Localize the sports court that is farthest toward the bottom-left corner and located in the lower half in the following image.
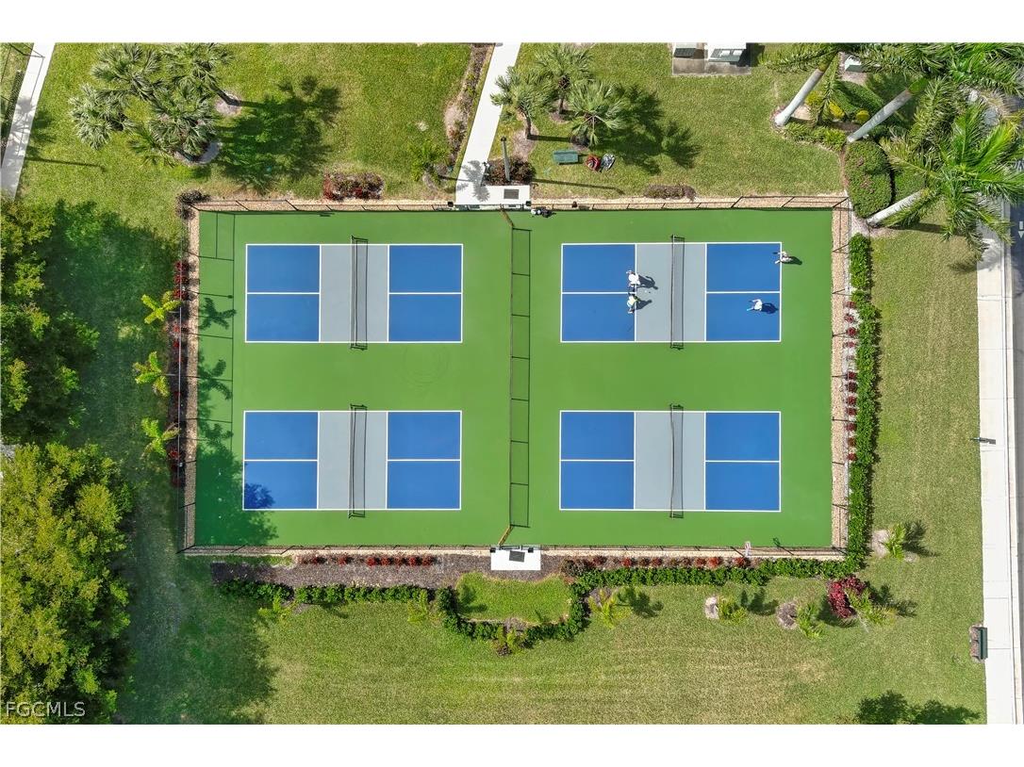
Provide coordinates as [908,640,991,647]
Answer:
[243,410,462,511]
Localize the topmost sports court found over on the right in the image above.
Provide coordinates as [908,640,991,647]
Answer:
[561,242,781,343]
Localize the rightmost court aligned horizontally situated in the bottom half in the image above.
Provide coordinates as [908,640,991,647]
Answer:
[561,411,782,512]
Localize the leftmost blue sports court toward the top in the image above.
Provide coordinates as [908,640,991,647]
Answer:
[245,243,462,343]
